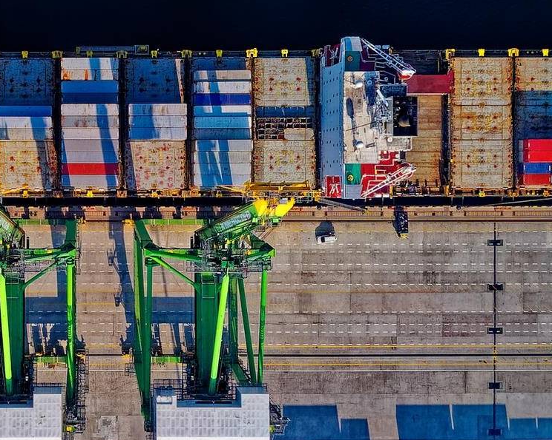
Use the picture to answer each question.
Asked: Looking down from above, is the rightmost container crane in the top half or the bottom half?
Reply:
bottom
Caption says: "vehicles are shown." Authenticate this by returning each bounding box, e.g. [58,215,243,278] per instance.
[398,205,413,241]
[318,233,339,243]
